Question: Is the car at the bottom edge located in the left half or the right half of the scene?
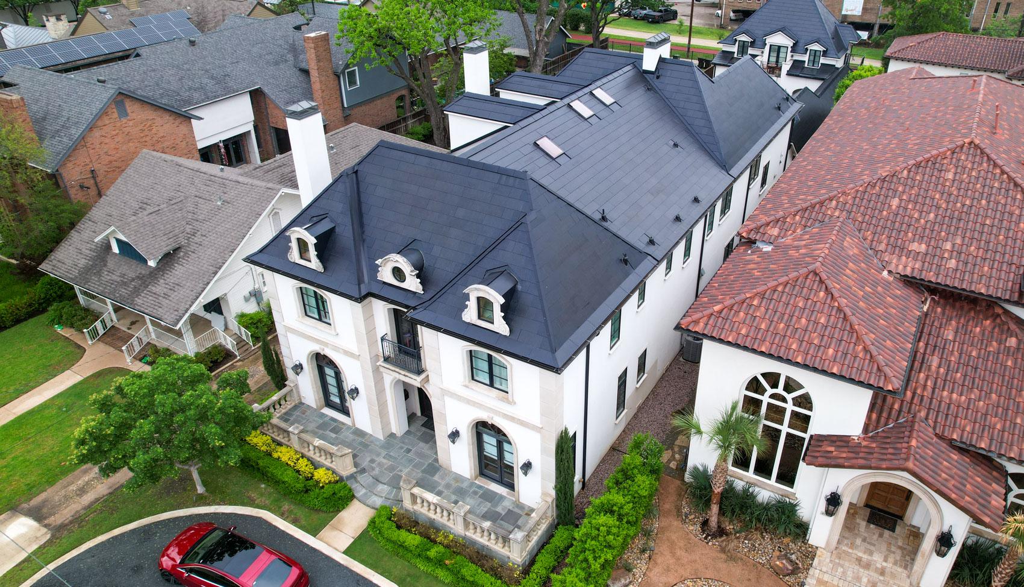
left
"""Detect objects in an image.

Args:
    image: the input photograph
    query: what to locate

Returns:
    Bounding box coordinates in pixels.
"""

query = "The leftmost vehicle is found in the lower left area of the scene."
[163,520,304,587]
